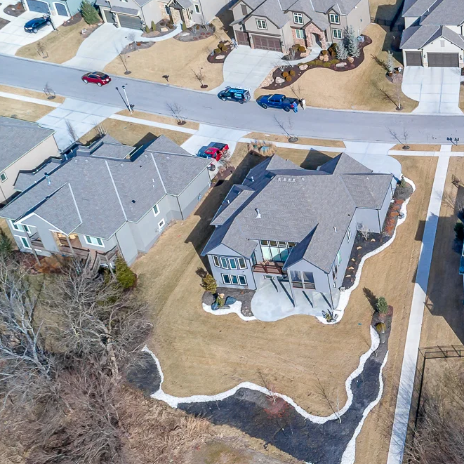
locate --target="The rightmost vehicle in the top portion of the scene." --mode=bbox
[254,90,298,109]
